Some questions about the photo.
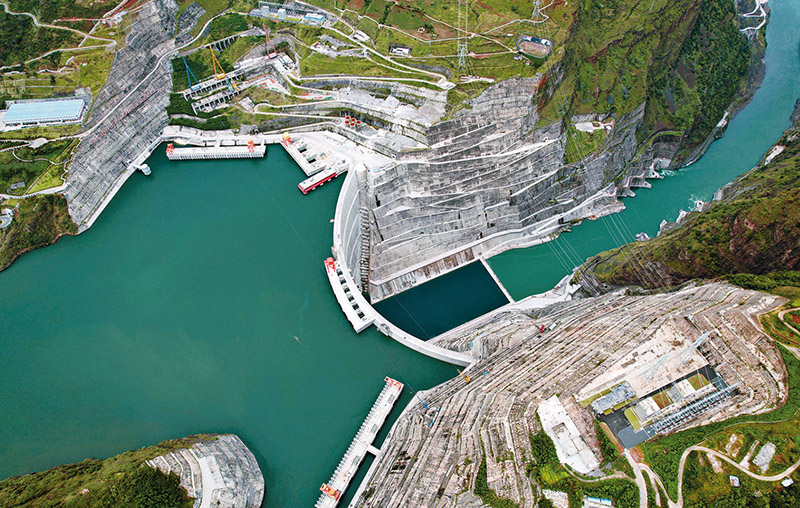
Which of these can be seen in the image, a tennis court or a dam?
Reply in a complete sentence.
The one in the frame is a dam.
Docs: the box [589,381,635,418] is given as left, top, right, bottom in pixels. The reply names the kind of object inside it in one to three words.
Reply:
building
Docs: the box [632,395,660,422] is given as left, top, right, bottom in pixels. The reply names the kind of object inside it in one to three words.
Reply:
building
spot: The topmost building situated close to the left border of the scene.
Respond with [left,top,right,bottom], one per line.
[1,94,91,129]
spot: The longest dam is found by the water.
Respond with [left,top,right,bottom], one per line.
[318,166,484,370]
